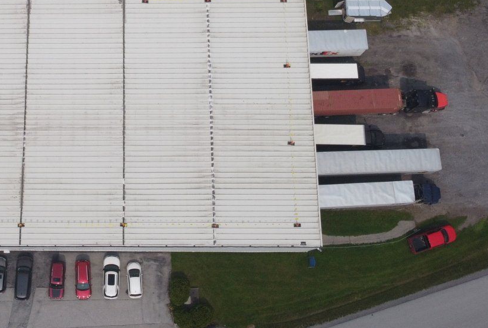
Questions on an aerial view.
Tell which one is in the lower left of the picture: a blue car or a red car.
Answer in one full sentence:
It is a red car that can be seen in the lower left of the picture.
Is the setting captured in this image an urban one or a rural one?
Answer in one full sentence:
It looks urban.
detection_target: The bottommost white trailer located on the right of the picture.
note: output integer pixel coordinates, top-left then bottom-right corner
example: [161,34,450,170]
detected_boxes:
[319,180,416,210]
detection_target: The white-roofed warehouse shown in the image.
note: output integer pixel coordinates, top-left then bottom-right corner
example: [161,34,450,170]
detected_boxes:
[0,0,327,255]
